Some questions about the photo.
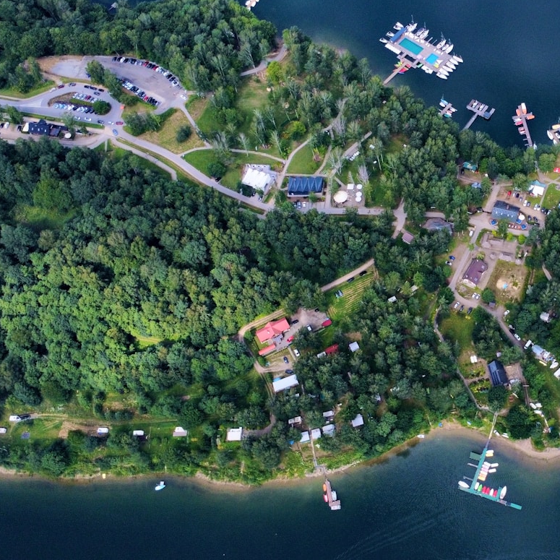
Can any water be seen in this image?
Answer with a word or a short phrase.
Yes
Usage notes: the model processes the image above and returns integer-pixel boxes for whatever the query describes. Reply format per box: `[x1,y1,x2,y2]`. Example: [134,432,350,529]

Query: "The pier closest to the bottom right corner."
[458,434,523,510]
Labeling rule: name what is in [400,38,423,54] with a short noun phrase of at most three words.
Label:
swimming pool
